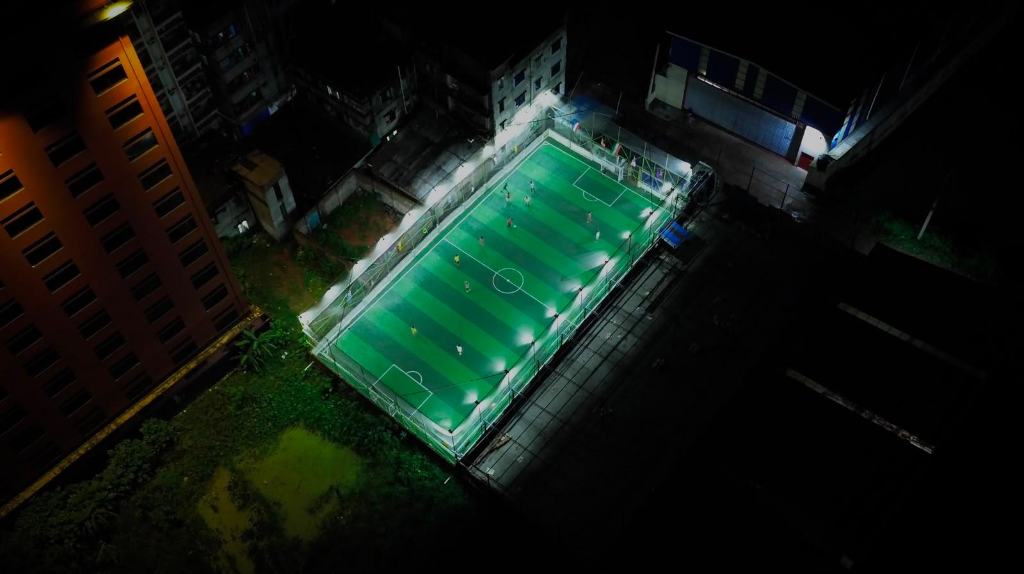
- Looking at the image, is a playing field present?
Yes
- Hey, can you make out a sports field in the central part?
Yes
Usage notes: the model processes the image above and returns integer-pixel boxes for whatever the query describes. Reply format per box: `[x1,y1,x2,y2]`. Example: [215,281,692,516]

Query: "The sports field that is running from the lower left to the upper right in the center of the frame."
[311,133,684,465]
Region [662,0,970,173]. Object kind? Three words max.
warehouse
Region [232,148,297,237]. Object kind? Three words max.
shed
